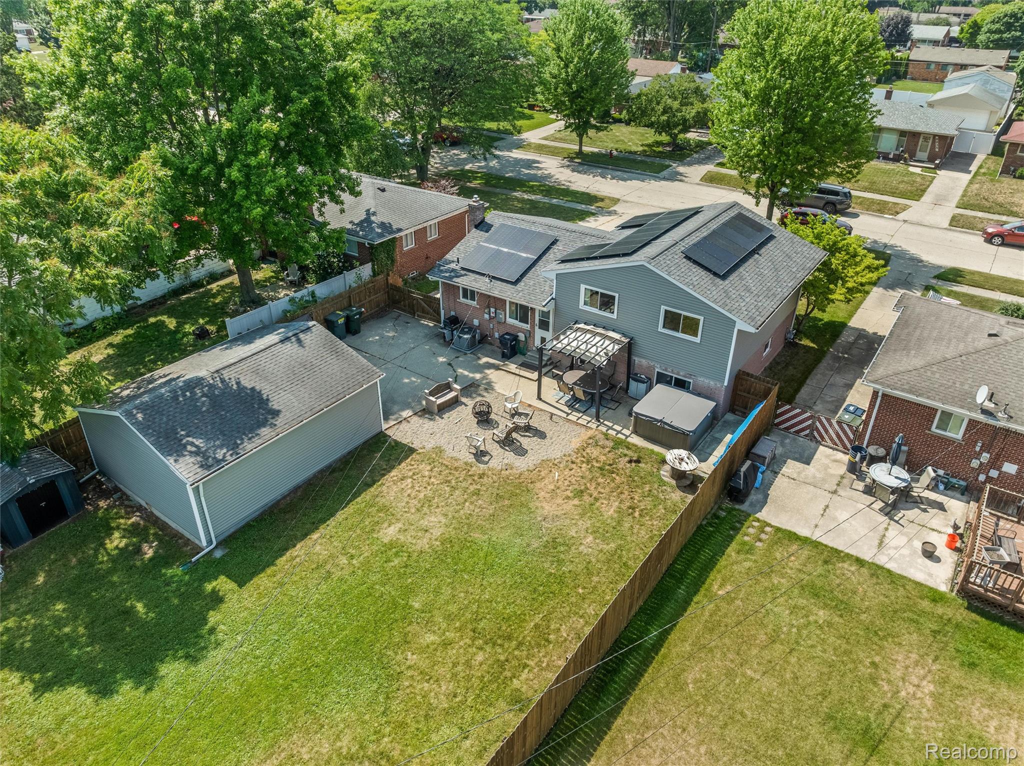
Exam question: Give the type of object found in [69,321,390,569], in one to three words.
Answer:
building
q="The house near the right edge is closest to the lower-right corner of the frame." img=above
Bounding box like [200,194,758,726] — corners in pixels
[856,293,1024,489]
